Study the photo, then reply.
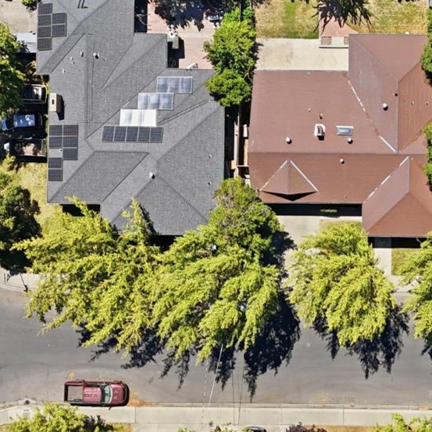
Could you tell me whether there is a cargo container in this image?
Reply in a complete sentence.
No, no cargo container is visible in the view.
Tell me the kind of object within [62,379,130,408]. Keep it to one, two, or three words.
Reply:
truck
